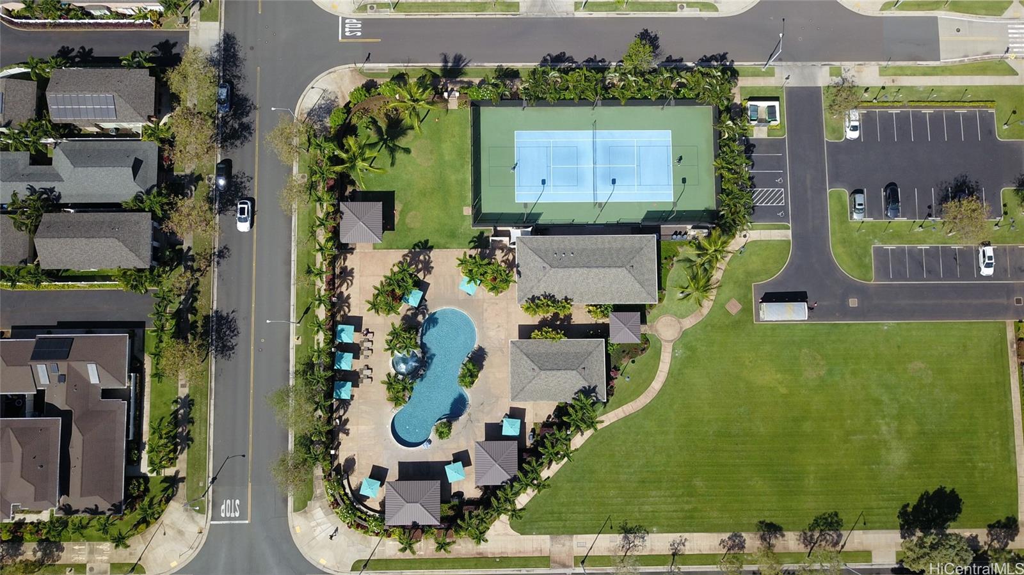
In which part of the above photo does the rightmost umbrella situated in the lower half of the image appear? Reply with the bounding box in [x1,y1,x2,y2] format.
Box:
[502,417,520,436]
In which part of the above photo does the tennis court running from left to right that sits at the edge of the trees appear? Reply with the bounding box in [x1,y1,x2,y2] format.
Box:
[472,104,717,225]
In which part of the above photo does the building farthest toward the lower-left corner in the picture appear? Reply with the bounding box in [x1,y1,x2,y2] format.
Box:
[0,417,67,521]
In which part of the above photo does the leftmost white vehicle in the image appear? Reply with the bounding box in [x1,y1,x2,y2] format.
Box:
[236,201,252,232]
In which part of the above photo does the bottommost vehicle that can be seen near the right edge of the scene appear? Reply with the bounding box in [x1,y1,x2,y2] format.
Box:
[979,246,997,277]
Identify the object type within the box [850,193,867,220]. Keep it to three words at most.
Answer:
car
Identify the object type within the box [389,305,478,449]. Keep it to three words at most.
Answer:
swimming pool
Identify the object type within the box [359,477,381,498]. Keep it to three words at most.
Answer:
umbrella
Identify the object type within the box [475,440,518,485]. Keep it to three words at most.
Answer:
building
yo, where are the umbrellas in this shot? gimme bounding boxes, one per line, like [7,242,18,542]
[359,477,381,498]
[335,352,353,370]
[333,381,351,399]
[445,461,466,483]
[502,417,520,436]
[401,289,424,309]
[458,279,479,298]
[337,325,355,343]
